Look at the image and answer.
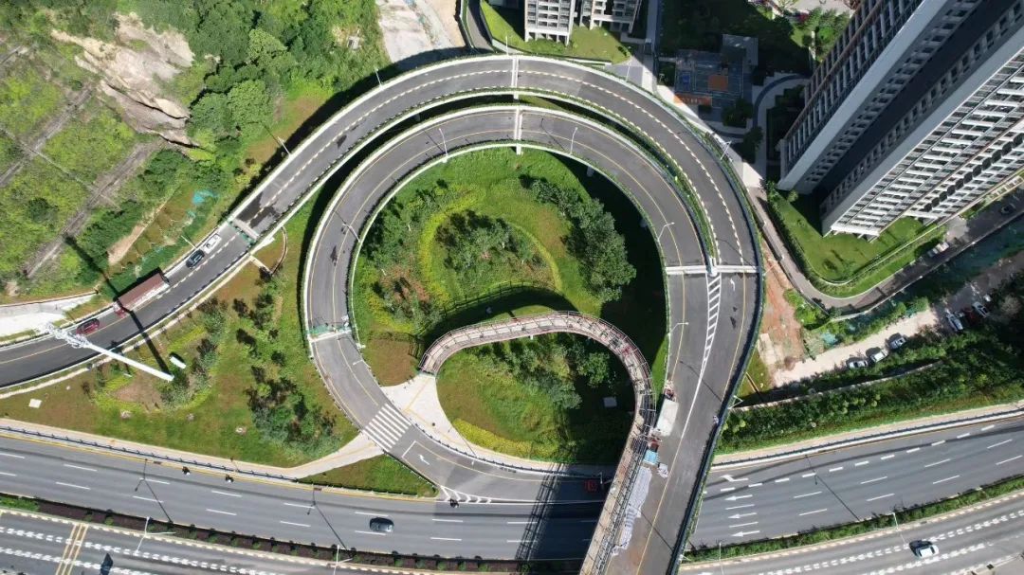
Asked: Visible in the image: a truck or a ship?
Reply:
truck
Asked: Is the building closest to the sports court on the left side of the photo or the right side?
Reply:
right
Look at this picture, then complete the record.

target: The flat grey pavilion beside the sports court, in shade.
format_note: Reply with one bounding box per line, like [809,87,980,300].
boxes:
[725,26,762,60]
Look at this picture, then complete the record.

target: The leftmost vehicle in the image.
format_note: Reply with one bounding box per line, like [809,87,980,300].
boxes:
[75,317,98,332]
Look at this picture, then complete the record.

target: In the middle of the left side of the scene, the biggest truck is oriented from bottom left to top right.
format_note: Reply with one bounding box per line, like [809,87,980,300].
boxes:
[108,273,166,318]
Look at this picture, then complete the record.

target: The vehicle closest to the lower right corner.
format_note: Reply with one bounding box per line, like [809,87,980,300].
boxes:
[914,542,939,556]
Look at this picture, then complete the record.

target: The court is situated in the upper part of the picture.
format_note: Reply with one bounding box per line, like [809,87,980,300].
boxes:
[673,55,747,111]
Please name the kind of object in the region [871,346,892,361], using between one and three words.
car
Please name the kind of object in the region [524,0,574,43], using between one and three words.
building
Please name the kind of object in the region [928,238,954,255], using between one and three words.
vehicle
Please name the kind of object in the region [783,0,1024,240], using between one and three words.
building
